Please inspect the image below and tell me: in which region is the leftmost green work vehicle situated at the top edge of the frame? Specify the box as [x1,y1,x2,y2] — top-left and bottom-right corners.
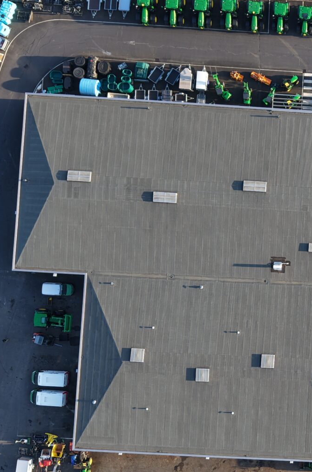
[135,0,157,29]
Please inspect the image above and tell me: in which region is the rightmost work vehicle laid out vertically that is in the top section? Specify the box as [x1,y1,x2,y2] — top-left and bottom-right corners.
[297,6,312,38]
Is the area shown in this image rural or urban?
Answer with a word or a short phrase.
urban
